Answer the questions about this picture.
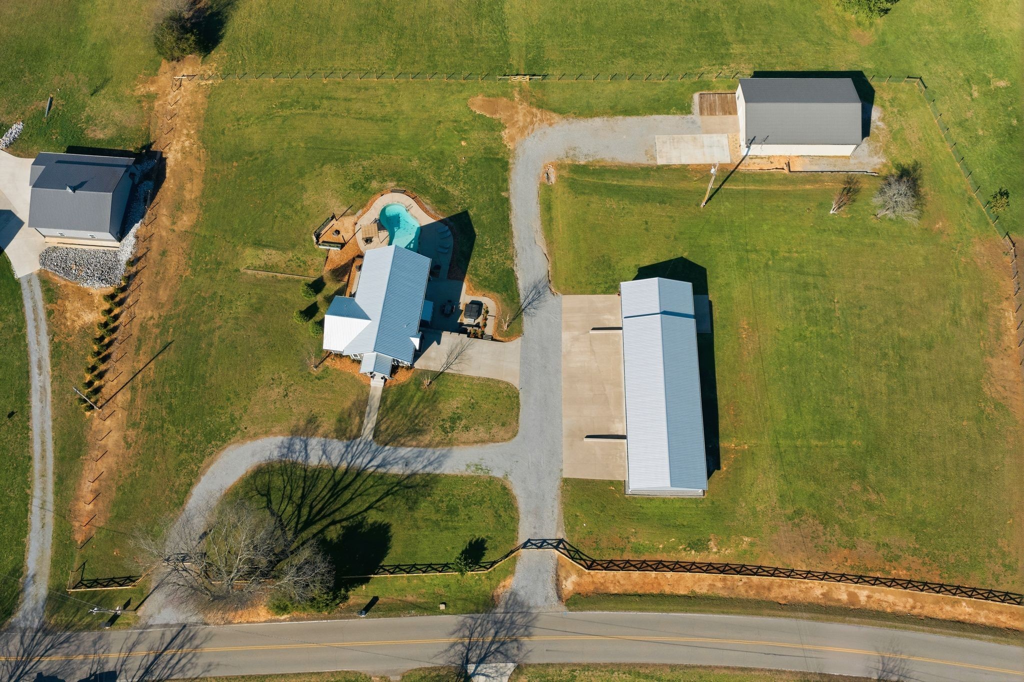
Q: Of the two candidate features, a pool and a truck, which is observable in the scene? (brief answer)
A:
pool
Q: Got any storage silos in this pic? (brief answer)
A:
No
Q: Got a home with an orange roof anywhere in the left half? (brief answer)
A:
No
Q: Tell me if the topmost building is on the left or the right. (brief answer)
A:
right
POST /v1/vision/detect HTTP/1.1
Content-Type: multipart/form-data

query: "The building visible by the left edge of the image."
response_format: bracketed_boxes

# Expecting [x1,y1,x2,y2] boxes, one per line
[28,152,138,245]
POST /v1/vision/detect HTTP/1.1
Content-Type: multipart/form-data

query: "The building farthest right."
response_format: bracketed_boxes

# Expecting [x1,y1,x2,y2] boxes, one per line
[736,77,862,156]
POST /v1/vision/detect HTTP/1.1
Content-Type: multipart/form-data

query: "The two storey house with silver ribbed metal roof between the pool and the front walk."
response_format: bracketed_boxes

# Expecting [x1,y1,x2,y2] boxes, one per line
[323,244,434,384]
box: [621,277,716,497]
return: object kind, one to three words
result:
building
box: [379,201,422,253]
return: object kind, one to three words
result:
swimming pool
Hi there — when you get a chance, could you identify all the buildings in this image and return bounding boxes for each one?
[621,277,716,497]
[28,152,138,245]
[323,244,434,384]
[736,77,862,156]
